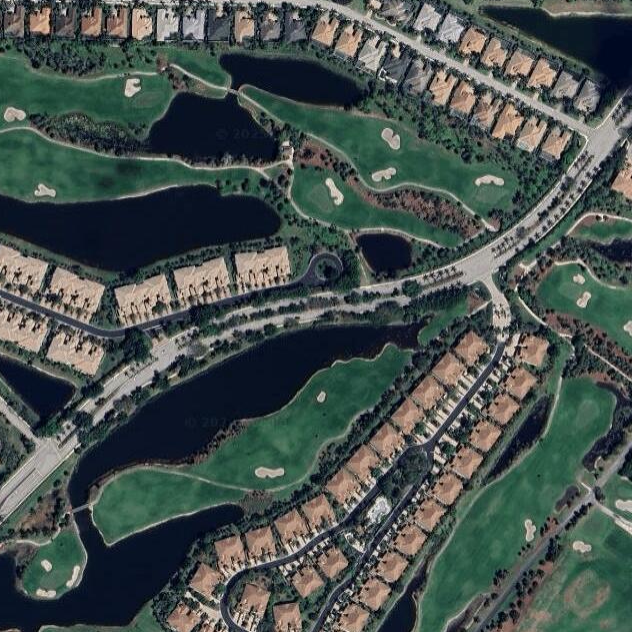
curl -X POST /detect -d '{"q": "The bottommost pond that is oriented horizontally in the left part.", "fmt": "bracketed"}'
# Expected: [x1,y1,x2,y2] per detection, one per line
[0,186,279,272]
